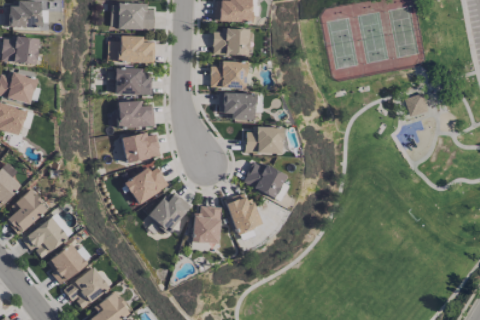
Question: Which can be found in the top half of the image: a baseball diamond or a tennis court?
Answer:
tennis court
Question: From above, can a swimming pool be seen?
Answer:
Yes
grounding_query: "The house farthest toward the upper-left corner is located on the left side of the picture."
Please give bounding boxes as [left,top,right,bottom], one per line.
[8,0,49,28]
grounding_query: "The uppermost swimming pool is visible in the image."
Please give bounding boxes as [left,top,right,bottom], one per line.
[260,66,273,87]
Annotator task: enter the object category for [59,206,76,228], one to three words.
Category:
swimming pool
